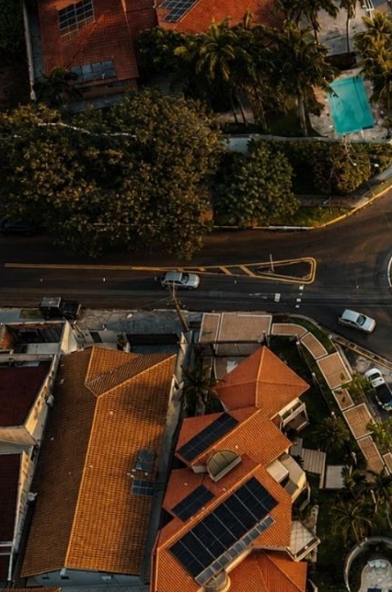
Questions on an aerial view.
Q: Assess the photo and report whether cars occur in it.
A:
Yes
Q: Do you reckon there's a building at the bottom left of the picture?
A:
Yes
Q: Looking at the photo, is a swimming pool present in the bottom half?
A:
No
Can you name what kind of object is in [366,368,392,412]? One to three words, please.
truck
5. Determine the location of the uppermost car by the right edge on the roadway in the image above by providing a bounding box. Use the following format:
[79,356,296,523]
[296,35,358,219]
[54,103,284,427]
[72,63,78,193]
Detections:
[337,305,377,334]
